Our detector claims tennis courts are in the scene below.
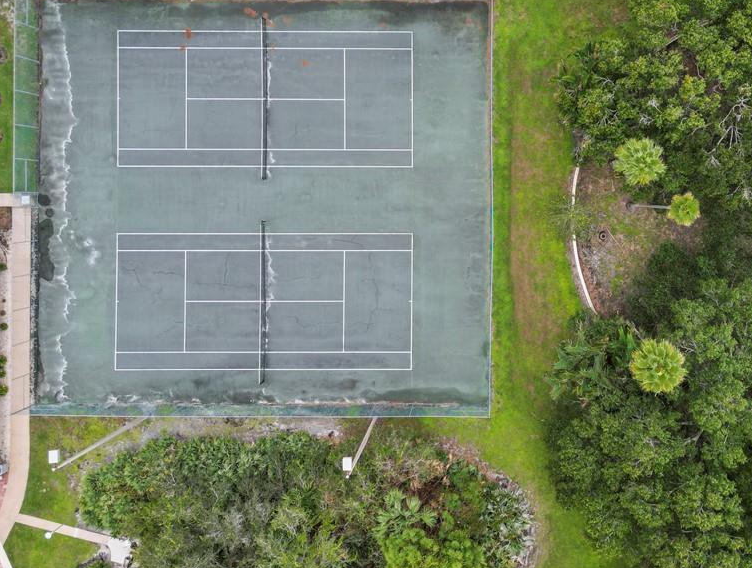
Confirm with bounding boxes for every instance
[115,234,412,371]
[117,31,412,167]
